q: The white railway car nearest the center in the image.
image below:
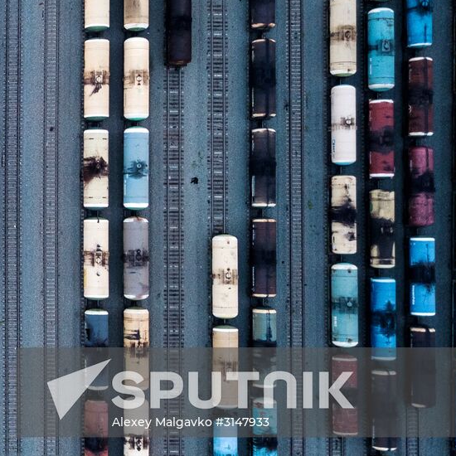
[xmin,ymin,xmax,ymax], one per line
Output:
[209,230,238,321]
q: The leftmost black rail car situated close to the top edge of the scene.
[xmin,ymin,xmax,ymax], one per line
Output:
[166,0,191,71]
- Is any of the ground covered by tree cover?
No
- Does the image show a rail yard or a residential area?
rail yard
